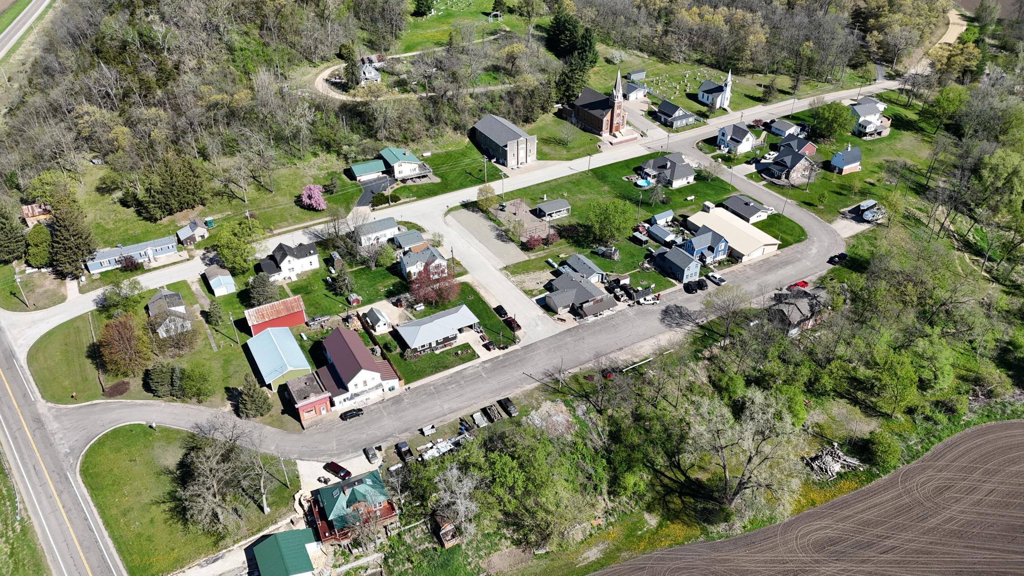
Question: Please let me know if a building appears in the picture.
Yes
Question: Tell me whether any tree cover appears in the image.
Yes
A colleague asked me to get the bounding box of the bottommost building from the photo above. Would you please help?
[253,528,338,576]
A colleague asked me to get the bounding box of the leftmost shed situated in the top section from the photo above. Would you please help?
[25,200,55,223]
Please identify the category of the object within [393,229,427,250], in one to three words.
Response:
building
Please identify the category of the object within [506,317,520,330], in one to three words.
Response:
vehicle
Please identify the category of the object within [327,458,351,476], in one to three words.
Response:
car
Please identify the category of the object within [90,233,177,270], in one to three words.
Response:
house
